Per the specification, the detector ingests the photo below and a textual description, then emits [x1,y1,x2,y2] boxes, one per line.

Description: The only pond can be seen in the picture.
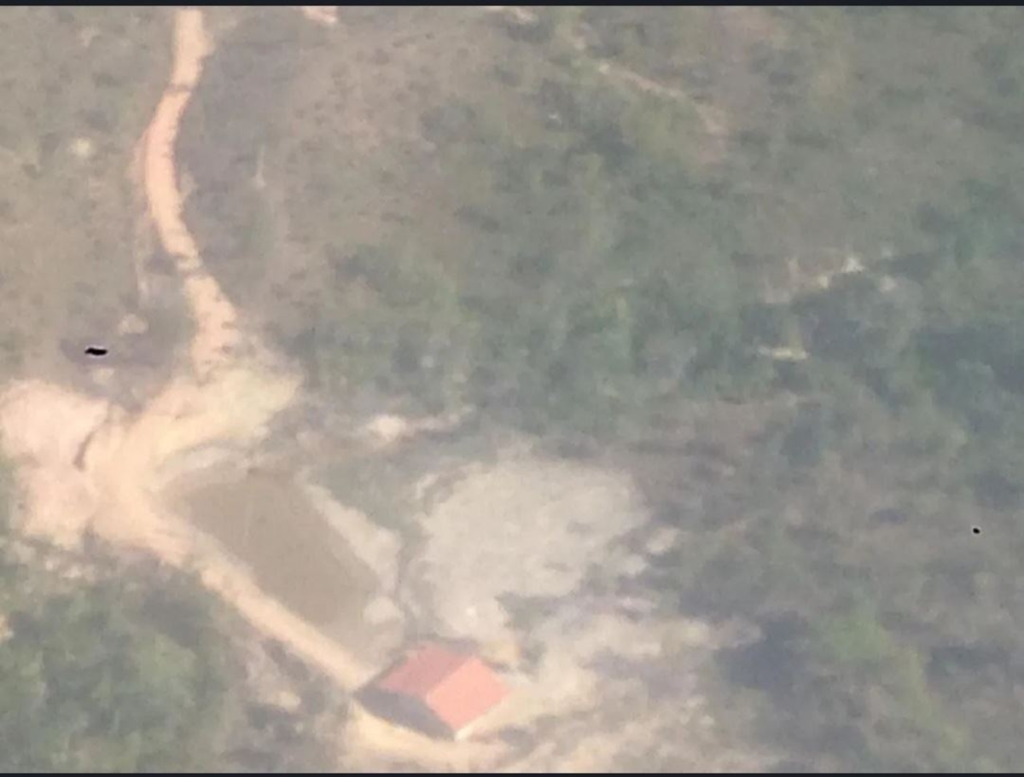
[170,458,385,651]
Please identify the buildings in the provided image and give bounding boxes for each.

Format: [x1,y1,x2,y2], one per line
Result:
[375,641,506,745]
